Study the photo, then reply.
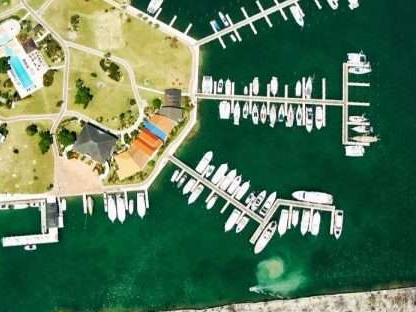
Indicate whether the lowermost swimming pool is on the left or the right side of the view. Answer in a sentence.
The lowermost swimming pool appears in the left half of the scene.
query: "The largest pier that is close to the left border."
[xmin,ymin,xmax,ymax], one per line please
[3,202,58,247]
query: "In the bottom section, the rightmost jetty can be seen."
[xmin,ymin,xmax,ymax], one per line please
[169,154,335,242]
